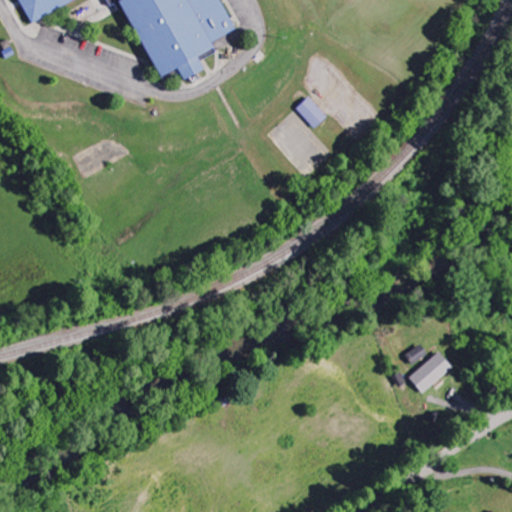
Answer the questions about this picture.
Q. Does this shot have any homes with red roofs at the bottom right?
No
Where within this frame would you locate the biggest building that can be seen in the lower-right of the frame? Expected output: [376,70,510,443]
[409,352,452,392]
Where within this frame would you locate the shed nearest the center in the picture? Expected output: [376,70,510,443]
[296,97,326,128]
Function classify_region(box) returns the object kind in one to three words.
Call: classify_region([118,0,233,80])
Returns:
building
